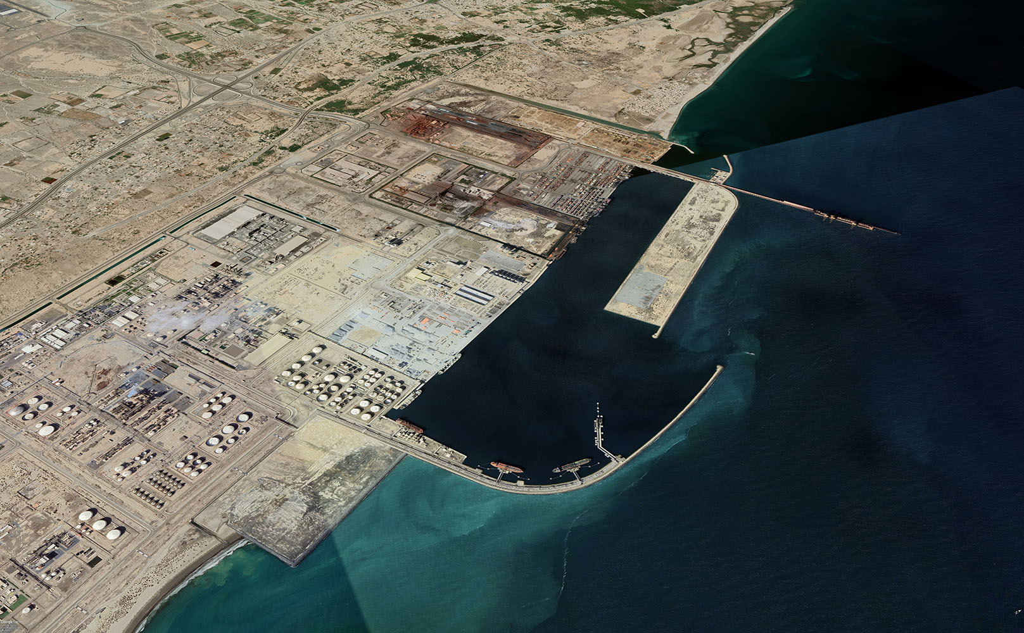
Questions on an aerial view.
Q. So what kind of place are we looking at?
port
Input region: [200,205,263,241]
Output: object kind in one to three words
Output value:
building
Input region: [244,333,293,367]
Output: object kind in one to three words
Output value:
building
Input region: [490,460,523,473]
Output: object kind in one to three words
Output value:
ship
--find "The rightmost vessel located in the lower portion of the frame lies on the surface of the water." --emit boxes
[552,458,592,472]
